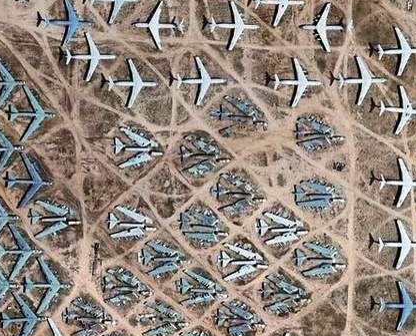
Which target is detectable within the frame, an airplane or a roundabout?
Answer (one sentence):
There is an airplane in the scene.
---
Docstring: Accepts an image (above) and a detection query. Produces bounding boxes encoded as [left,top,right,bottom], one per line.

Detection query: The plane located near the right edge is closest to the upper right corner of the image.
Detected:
[377,27,416,76]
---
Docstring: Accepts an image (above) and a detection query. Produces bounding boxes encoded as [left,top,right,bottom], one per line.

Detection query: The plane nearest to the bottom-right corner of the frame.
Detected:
[379,281,416,330]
